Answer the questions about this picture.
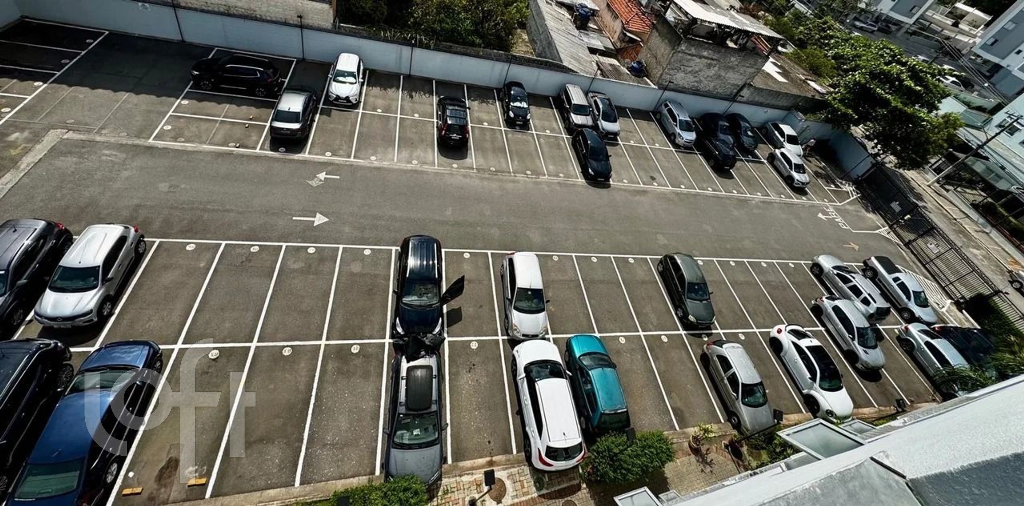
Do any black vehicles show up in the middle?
Yes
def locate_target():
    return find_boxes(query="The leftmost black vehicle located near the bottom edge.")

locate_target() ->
[0,339,71,498]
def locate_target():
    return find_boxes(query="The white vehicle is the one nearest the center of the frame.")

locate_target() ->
[501,255,549,340]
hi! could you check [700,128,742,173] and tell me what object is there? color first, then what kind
black car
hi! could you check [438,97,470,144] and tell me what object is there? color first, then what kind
black car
